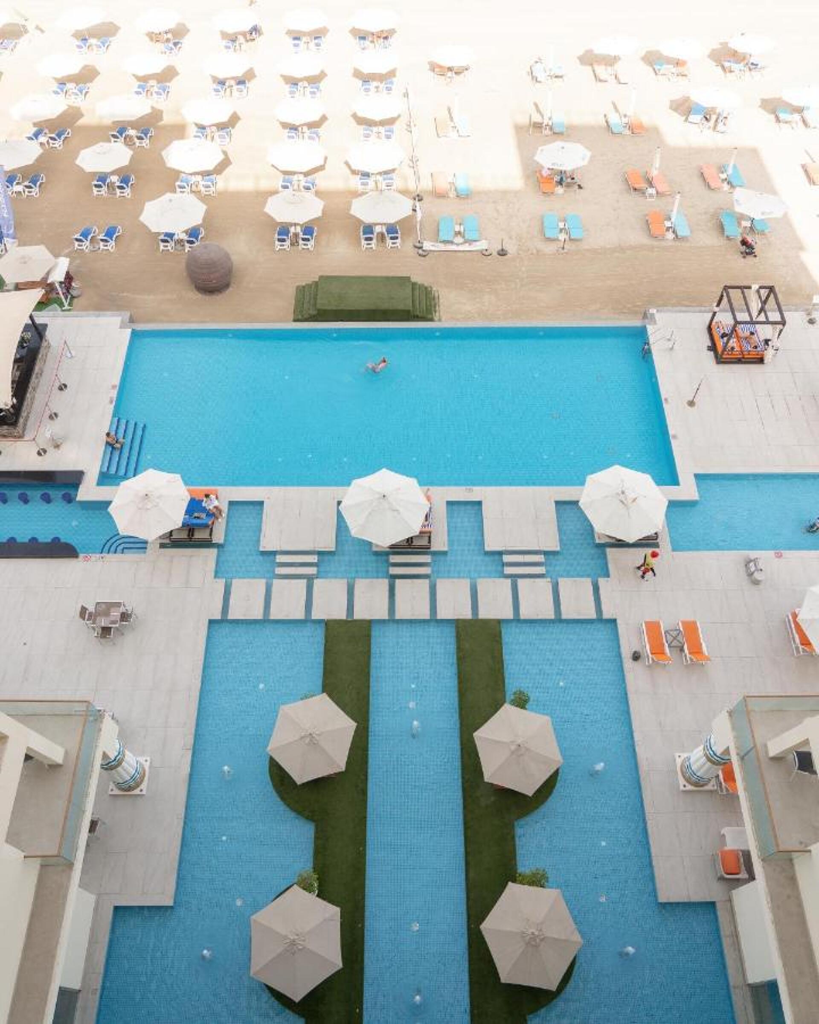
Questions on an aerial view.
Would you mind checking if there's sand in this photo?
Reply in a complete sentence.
Yes, the picture does contain sand.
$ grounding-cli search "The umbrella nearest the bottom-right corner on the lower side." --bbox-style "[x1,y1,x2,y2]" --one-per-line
[478,887,584,990]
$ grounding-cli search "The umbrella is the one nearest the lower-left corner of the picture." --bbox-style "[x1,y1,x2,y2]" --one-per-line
[247,887,344,1004]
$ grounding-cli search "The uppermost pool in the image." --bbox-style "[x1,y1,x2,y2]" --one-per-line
[99,328,678,487]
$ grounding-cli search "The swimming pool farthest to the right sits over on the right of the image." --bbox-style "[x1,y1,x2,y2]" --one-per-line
[660,474,819,551]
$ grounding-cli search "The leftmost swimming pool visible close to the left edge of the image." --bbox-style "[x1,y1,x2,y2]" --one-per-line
[0,471,151,554]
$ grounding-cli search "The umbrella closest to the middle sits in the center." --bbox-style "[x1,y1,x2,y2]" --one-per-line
[339,468,429,546]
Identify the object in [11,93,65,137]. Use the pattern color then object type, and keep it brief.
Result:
white umbrella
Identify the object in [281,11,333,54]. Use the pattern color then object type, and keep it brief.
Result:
white umbrella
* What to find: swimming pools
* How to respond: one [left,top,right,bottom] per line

[660,474,819,551]
[0,471,151,554]
[98,501,734,1024]
[99,328,678,487]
